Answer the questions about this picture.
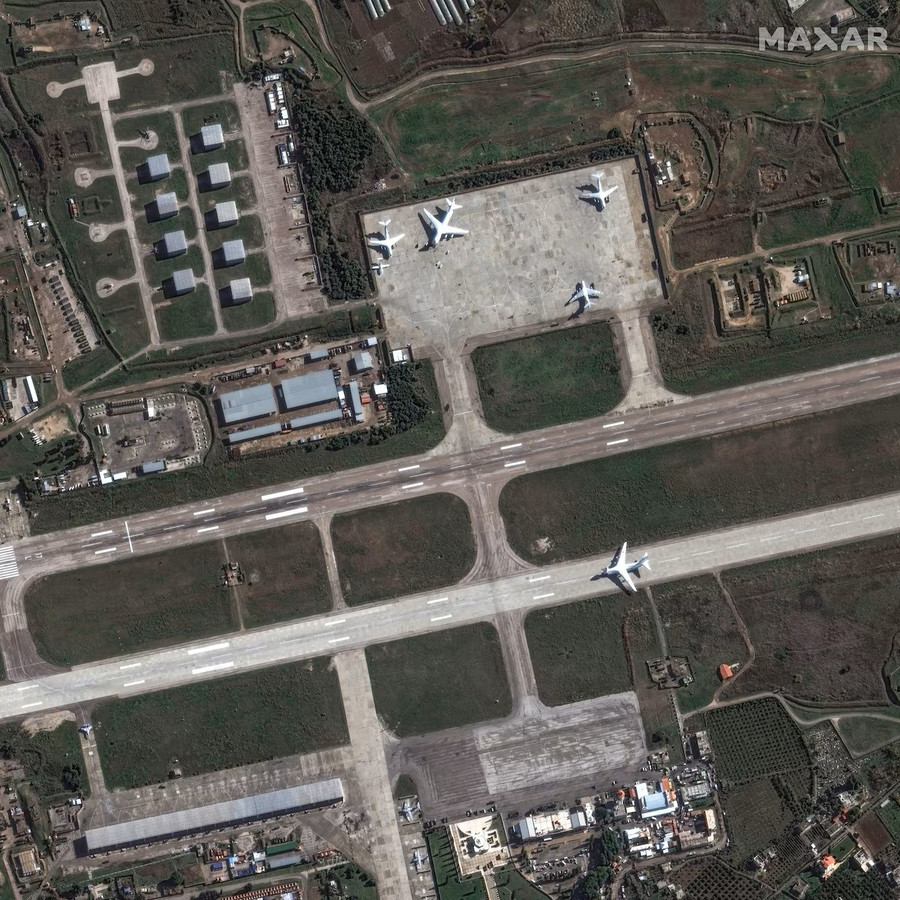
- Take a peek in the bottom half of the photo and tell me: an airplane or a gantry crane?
airplane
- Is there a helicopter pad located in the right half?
No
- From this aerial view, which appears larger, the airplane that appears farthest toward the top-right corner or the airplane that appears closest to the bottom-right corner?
the airplane that appears closest to the bottom-right corner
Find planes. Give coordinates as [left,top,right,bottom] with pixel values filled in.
[402,798,425,823]
[411,849,435,874]
[370,258,388,275]
[370,218,404,257]
[425,195,470,243]
[570,281,605,311]
[583,169,617,207]
[81,722,91,737]
[606,540,653,590]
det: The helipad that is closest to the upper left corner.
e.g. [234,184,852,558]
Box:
[46,77,84,98]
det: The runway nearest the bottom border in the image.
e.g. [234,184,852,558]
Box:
[0,493,900,727]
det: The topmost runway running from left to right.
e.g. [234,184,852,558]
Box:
[0,354,900,583]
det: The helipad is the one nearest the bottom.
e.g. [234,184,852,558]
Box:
[96,275,137,296]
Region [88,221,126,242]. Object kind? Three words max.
helipad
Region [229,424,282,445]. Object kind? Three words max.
shed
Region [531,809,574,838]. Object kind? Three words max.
building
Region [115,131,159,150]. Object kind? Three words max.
helipad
